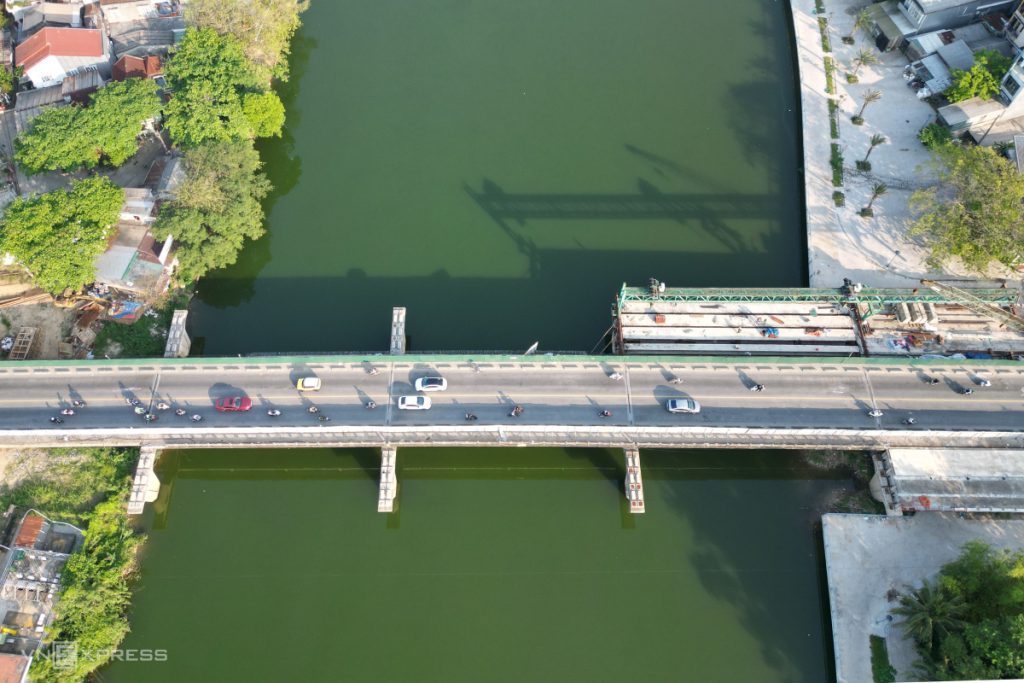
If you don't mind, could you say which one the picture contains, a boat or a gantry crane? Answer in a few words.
gantry crane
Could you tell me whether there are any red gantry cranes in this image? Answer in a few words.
No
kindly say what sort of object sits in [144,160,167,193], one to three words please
shed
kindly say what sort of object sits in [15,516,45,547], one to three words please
shed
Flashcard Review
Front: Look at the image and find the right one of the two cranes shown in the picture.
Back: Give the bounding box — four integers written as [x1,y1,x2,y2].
[918,274,1024,347]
